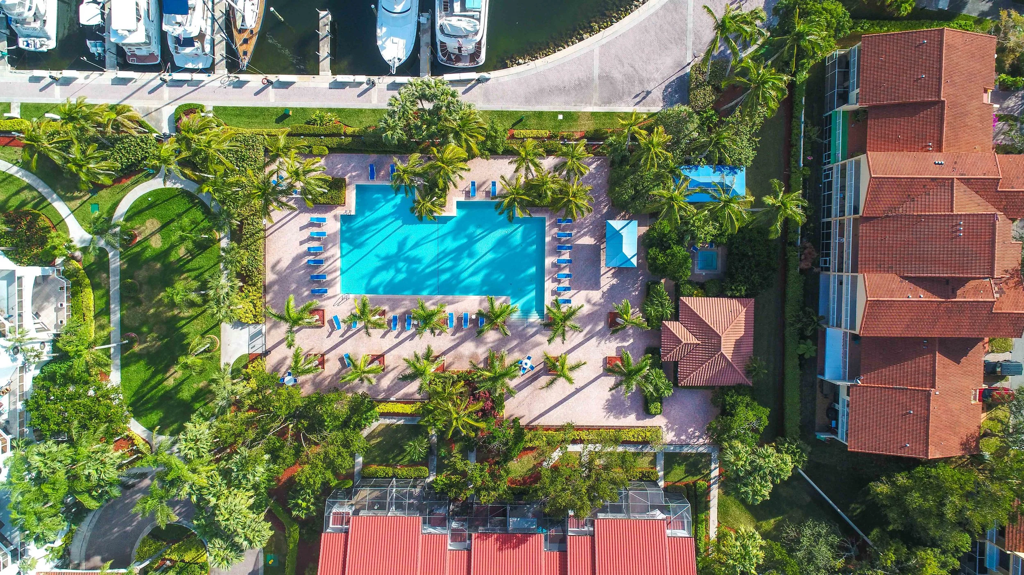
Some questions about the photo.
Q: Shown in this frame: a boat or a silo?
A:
boat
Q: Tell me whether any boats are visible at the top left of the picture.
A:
Yes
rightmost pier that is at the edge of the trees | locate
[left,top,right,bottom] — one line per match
[420,13,432,76]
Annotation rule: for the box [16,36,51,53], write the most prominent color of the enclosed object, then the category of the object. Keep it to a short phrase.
white boat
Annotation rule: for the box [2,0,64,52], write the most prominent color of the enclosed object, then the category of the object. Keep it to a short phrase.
white boat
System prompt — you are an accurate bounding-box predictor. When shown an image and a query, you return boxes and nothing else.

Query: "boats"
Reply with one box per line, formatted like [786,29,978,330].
[111,0,165,66]
[163,0,215,71]
[16,36,51,53]
[202,0,267,71]
[2,0,64,52]
[435,0,488,70]
[79,0,108,58]
[376,0,419,74]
